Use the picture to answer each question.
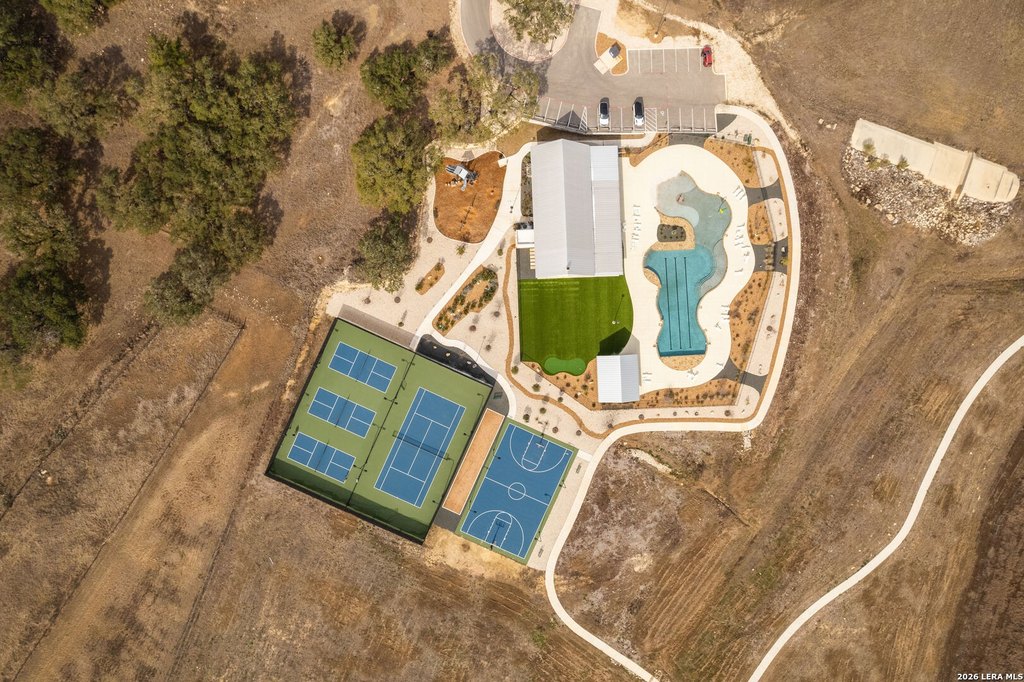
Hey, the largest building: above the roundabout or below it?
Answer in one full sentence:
The largest building is below the roundabout.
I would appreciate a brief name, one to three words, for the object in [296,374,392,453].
sports court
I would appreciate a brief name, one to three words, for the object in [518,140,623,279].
building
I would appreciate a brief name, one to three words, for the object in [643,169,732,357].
swimming pool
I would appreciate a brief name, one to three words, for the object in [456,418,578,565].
basketball court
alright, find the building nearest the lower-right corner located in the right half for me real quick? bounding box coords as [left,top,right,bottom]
[596,354,640,403]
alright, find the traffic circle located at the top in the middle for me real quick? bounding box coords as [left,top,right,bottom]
[489,0,577,62]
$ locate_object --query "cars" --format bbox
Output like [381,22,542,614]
[599,103,610,126]
[702,45,712,67]
[634,103,644,126]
